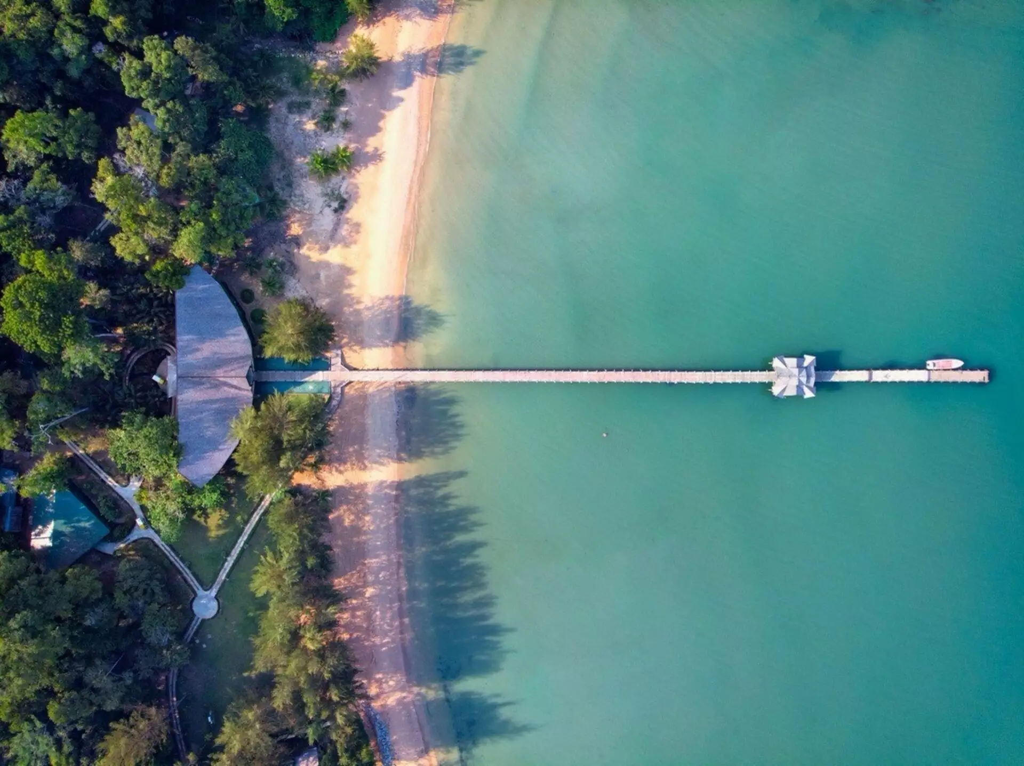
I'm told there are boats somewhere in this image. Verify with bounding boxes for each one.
[925,359,964,371]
